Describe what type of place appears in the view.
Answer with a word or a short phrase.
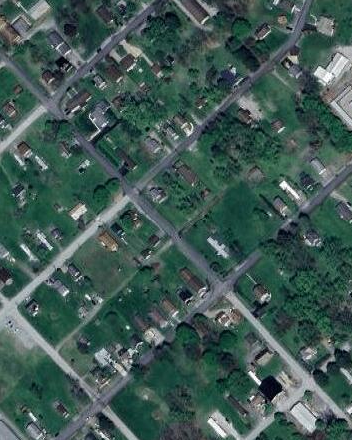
residential area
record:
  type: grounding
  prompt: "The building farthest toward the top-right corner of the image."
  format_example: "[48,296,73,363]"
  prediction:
[315,17,337,35]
